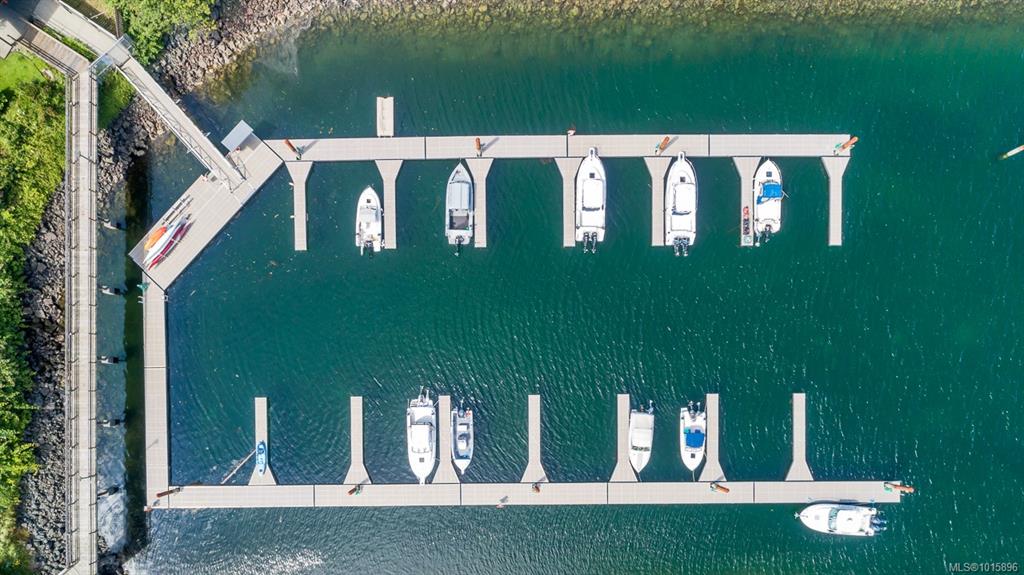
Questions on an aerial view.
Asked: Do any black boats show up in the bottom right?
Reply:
No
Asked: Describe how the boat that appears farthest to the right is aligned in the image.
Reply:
horizontally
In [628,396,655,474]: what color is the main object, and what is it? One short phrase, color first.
white boat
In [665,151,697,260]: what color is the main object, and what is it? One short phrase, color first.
white boat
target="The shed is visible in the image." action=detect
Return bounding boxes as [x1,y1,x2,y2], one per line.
[220,119,261,160]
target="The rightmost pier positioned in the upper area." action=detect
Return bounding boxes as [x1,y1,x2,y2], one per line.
[821,157,851,247]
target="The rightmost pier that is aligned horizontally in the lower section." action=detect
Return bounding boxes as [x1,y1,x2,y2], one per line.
[754,481,901,504]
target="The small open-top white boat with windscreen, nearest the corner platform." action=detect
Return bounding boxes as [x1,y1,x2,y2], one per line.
[357,186,382,260]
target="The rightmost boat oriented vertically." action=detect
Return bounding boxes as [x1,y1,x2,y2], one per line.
[754,159,795,246]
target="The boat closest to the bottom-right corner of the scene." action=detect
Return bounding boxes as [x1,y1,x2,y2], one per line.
[796,503,890,536]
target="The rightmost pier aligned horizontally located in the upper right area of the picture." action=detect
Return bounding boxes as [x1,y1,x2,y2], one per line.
[708,134,851,158]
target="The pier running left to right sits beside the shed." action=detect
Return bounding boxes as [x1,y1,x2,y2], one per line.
[264,136,425,162]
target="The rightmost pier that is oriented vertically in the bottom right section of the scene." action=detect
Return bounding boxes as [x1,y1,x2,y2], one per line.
[783,393,813,481]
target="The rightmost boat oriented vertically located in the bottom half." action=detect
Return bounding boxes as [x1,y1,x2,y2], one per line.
[679,393,707,472]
